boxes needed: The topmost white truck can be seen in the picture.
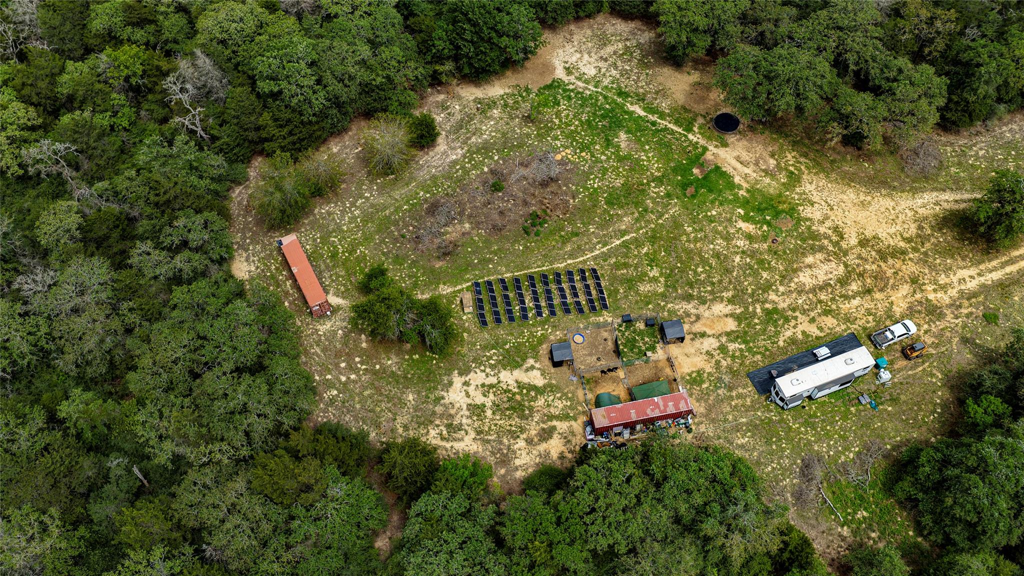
[869,323,918,348]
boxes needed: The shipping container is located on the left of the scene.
[279,234,331,318]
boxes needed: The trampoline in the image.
[711,113,740,135]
